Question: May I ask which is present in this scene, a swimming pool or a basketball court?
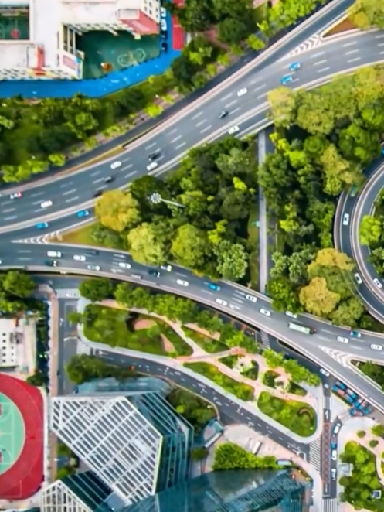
basketball court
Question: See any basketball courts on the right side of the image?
No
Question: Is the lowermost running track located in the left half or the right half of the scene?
left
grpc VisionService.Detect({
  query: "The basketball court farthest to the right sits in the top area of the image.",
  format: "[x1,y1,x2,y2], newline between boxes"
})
[81,28,159,79]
